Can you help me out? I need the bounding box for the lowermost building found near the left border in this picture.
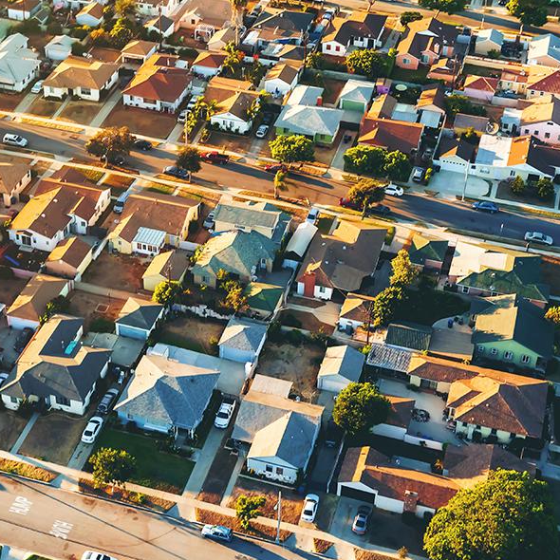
[1,312,113,421]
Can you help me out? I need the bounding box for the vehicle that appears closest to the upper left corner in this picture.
[29,80,46,94]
